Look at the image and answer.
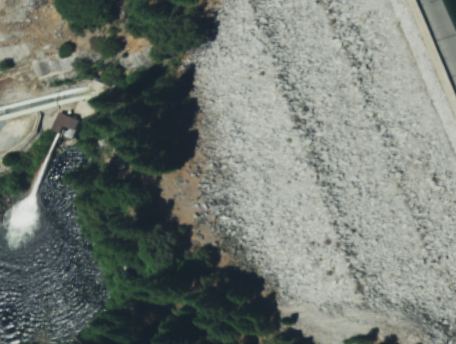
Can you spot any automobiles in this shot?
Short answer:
No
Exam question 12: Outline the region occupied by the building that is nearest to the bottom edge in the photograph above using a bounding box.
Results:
[50,112,78,140]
